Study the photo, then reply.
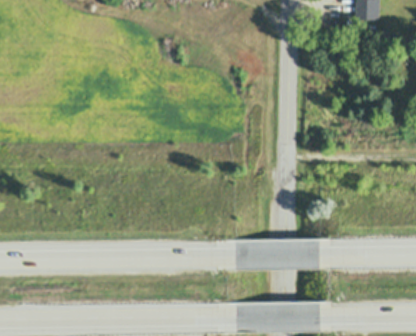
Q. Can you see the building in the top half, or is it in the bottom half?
top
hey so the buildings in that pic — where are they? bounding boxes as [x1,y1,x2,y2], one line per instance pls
[356,0,380,20]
